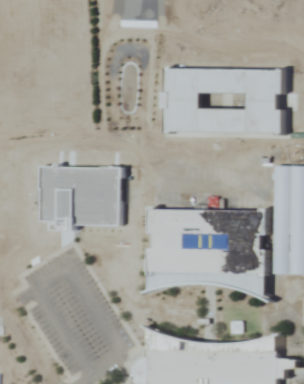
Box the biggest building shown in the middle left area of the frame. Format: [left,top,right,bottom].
[39,164,124,225]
